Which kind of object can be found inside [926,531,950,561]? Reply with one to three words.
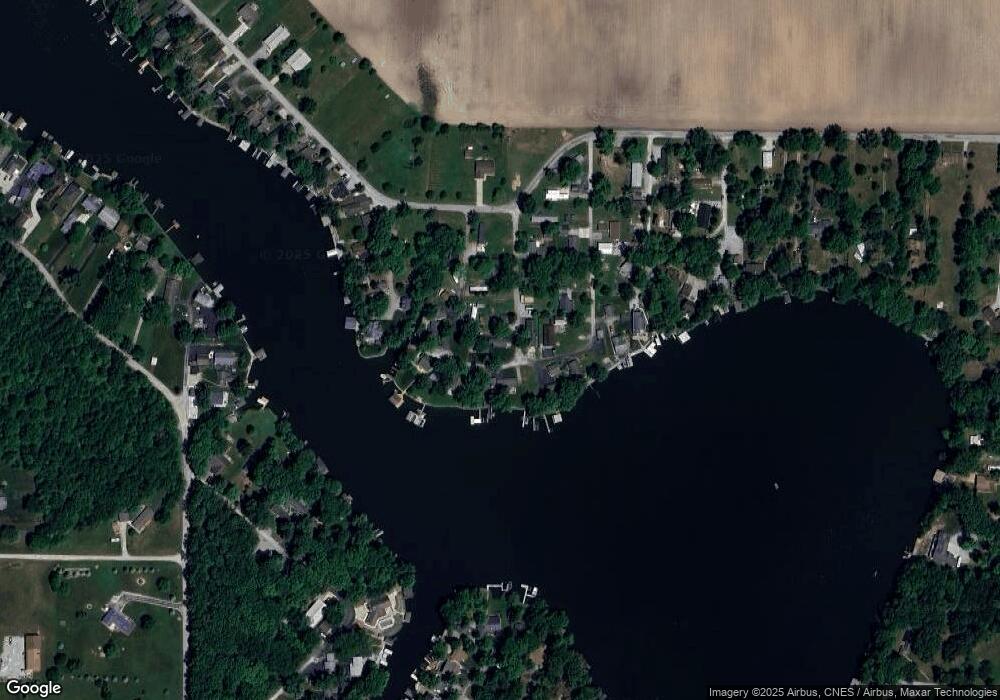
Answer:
house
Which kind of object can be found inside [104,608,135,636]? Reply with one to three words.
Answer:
house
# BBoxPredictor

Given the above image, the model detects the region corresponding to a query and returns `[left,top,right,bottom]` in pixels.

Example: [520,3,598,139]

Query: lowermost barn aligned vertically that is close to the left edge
[24,635,39,672]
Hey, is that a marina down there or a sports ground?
marina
